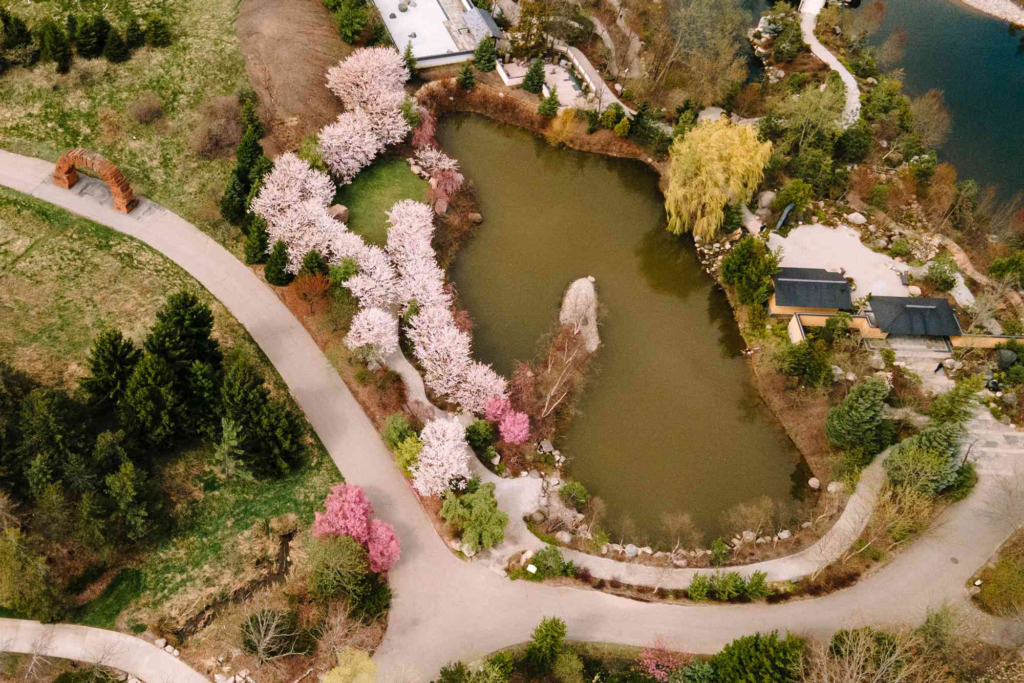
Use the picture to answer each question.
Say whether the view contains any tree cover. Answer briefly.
Yes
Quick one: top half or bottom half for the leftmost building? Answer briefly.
top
